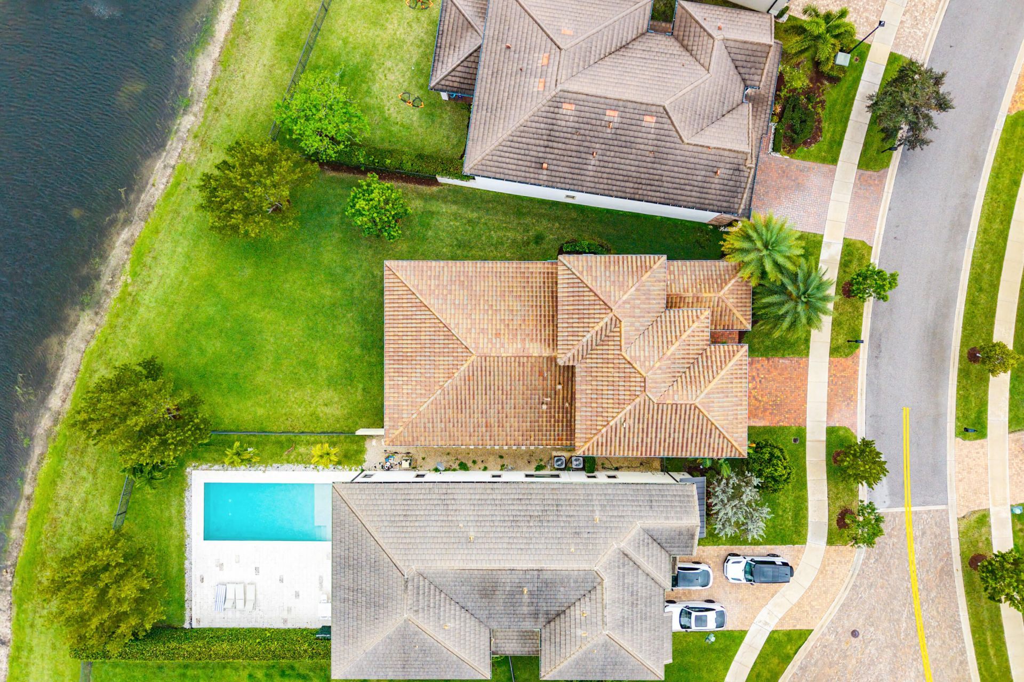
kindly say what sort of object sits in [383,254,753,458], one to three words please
house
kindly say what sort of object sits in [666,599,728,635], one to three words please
car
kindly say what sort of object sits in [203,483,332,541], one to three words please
swimming pool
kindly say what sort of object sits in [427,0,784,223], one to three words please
house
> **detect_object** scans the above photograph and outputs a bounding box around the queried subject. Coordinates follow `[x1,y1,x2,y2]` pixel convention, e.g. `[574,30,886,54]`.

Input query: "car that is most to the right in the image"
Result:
[723,551,796,587]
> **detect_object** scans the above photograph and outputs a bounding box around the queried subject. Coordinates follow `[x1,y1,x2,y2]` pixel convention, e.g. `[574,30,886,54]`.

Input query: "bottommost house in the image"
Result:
[330,464,707,682]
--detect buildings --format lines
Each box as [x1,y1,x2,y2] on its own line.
[383,254,753,458]
[330,464,707,682]
[427,0,784,223]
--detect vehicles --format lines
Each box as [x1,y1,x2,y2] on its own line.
[672,560,714,592]
[666,599,728,635]
[723,551,796,587]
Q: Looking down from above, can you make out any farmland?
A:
No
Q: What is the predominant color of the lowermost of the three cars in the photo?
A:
white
